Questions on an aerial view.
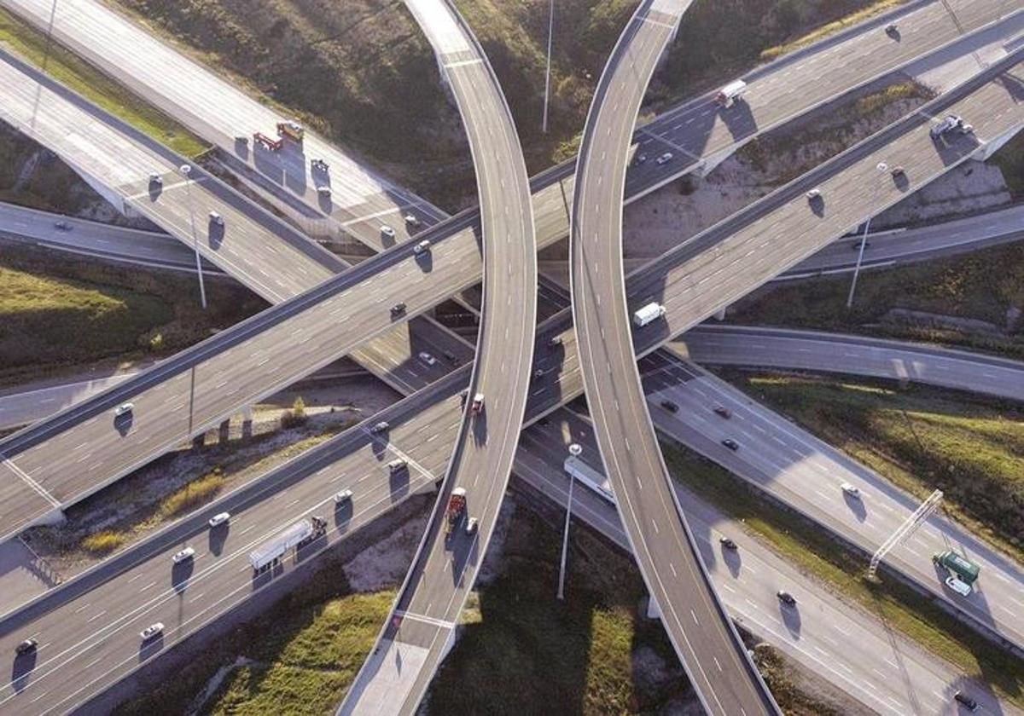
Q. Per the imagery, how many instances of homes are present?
0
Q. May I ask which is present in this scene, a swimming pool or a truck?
truck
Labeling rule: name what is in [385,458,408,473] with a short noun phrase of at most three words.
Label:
car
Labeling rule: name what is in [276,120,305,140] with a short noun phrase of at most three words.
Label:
vehicle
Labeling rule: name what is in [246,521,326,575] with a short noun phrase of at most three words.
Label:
truck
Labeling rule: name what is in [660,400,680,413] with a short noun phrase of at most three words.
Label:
vehicle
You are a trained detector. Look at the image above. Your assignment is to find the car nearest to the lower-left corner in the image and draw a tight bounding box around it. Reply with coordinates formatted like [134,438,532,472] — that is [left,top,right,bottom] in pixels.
[11,637,40,657]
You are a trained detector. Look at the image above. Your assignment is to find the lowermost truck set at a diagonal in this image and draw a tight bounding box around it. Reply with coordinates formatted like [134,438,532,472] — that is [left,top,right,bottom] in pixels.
[949,688,981,713]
